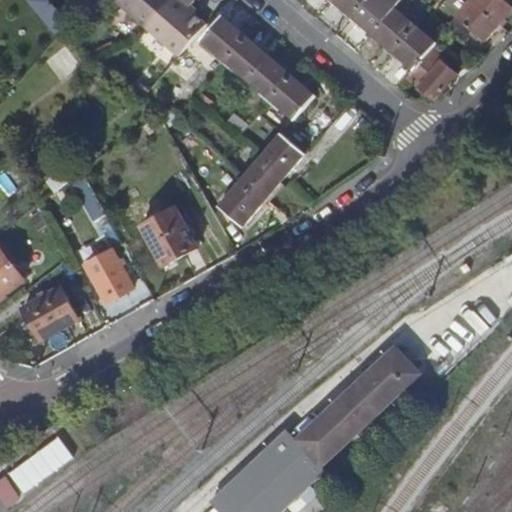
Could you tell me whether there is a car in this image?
Yes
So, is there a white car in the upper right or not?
Yes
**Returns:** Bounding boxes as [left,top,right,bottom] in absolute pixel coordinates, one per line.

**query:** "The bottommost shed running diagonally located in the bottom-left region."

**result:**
[10,437,76,494]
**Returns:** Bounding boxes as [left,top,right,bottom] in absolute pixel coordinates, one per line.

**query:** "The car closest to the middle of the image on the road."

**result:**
[292,219,313,236]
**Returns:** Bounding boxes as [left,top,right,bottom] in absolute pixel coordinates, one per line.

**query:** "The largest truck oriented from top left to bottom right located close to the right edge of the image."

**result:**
[460,306,492,336]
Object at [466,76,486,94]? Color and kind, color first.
white car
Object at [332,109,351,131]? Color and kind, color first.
white camper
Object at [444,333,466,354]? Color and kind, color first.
white vehicle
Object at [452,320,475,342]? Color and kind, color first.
white vehicle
